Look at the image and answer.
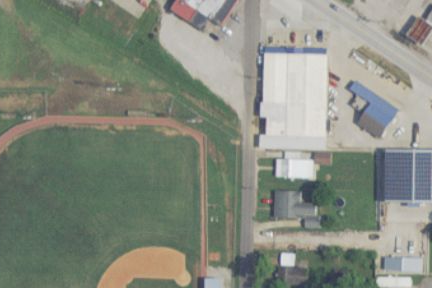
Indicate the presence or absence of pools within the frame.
No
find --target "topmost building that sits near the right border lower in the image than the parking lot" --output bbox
[384,257,422,271]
